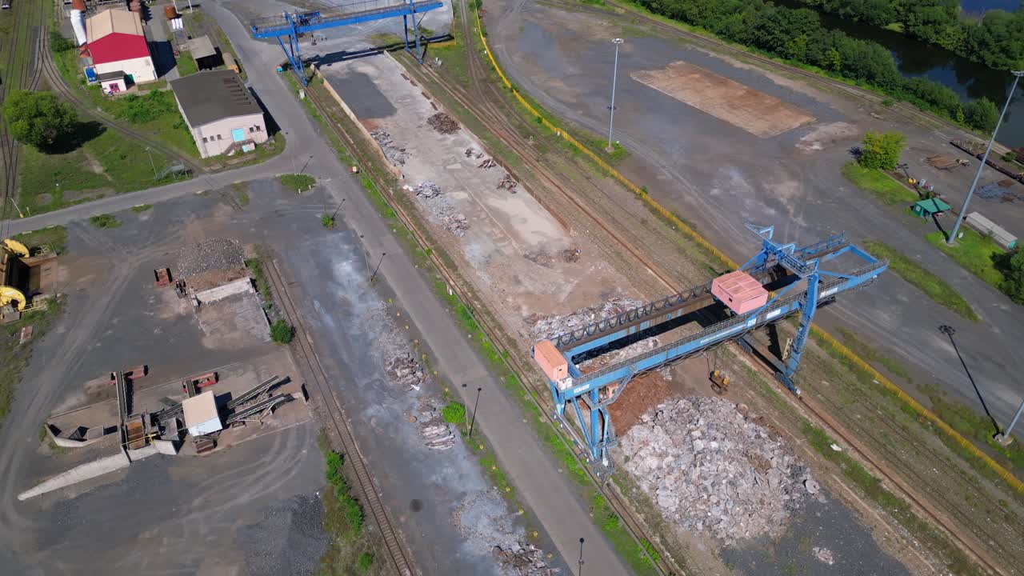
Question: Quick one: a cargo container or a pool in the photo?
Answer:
cargo container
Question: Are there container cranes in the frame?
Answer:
Yes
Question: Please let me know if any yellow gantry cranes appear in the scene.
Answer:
No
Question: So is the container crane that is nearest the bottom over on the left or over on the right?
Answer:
right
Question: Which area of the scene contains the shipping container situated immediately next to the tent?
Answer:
right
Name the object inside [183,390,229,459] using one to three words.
shed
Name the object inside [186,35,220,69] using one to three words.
shed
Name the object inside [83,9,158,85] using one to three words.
building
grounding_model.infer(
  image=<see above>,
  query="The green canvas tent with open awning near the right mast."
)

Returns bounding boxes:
[909,198,951,225]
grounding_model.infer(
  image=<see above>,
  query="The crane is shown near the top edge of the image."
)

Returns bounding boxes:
[251,0,445,90]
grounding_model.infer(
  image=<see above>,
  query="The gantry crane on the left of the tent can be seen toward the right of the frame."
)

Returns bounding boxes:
[527,211,890,485]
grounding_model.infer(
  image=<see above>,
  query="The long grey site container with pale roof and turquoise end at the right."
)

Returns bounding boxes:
[962,208,1019,247]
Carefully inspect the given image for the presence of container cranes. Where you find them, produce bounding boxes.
[251,0,445,90]
[527,211,890,485]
